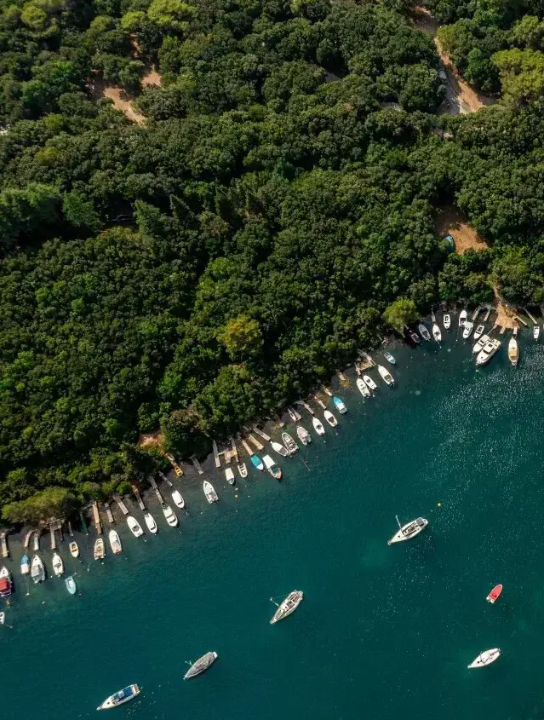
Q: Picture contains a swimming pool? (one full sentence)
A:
No, there's no swimming pool here.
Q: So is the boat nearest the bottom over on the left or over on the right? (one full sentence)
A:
The boat nearest the bottom sits on the left side.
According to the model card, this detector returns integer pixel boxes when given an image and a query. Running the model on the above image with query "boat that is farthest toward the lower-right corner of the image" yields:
[467,645,500,667]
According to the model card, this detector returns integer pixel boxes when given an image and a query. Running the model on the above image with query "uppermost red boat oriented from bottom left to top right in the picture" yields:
[487,584,501,604]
